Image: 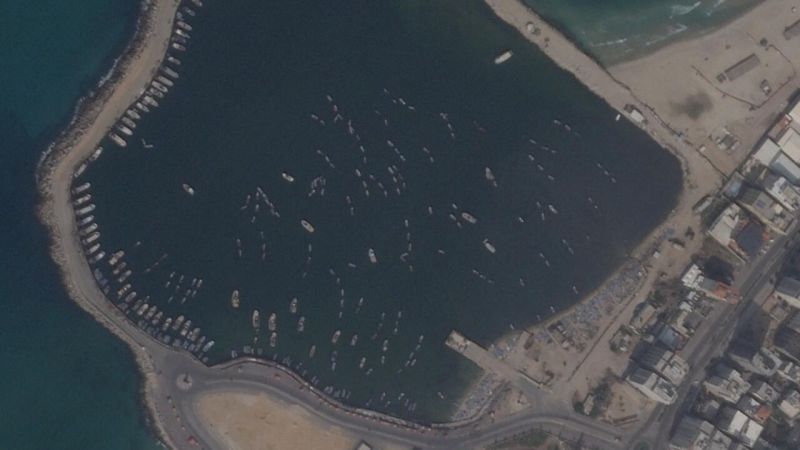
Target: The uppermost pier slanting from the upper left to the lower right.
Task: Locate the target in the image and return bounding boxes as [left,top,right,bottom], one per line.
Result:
[445,331,511,379]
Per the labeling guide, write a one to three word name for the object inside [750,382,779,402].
building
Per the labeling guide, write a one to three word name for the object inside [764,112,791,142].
house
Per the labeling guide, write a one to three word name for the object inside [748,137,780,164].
building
